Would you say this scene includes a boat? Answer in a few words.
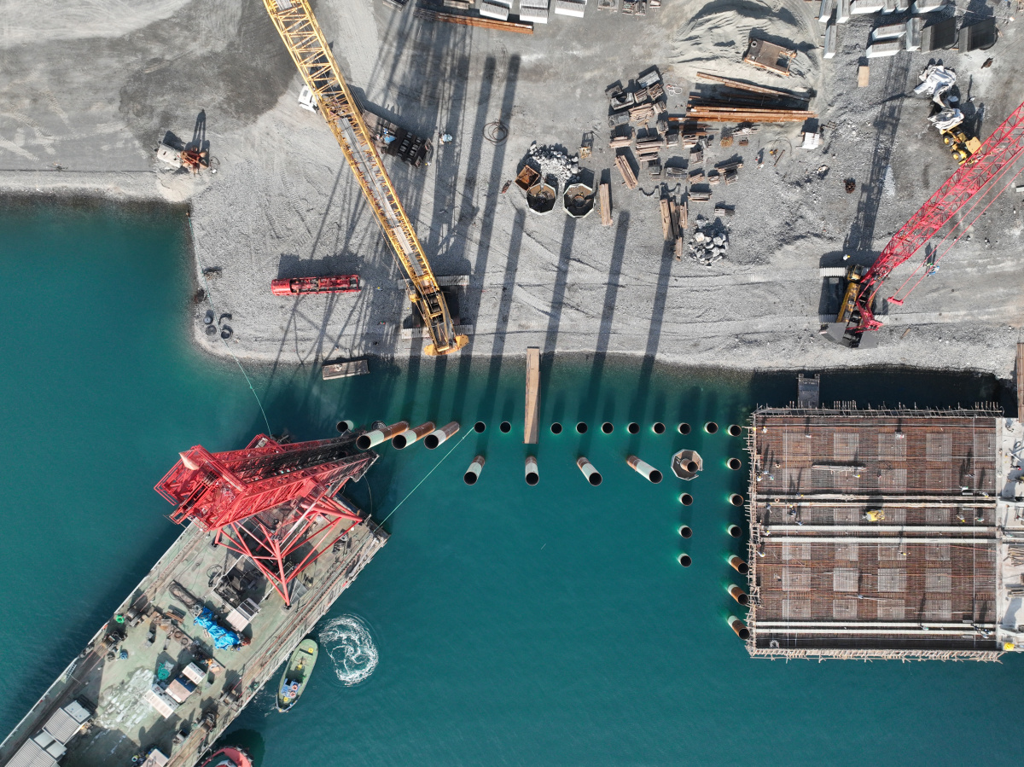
Yes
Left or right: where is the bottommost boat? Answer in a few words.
left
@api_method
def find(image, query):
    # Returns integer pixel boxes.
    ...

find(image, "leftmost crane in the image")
[270,0,473,363]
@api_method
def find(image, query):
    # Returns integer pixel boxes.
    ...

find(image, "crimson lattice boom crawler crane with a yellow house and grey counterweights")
[819,87,1024,355]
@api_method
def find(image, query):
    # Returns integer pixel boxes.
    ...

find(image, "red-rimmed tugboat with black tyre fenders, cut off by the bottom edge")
[201,738,254,767]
